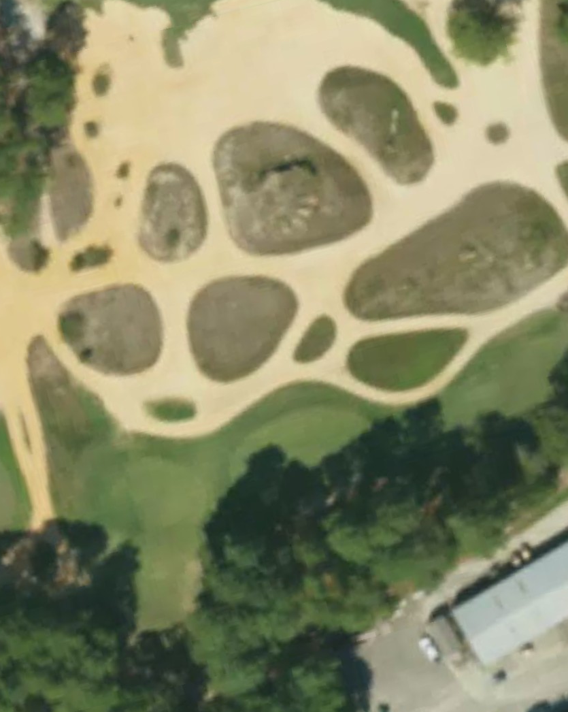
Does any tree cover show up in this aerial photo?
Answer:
Yes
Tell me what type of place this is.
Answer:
golf course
